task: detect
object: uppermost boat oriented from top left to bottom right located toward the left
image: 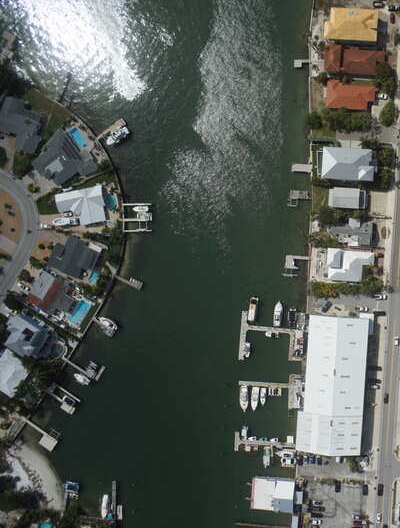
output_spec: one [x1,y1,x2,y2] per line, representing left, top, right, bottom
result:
[100,320,121,336]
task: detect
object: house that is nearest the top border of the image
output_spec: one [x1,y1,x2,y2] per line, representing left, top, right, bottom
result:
[323,7,378,46]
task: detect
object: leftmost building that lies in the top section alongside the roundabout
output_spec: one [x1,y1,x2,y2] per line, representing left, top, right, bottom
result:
[0,95,50,155]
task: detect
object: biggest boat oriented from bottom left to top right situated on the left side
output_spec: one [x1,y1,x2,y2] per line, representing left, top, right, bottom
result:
[110,125,133,143]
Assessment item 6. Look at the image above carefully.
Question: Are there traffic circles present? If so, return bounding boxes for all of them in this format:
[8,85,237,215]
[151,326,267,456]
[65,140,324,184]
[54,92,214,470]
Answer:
[0,170,41,284]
